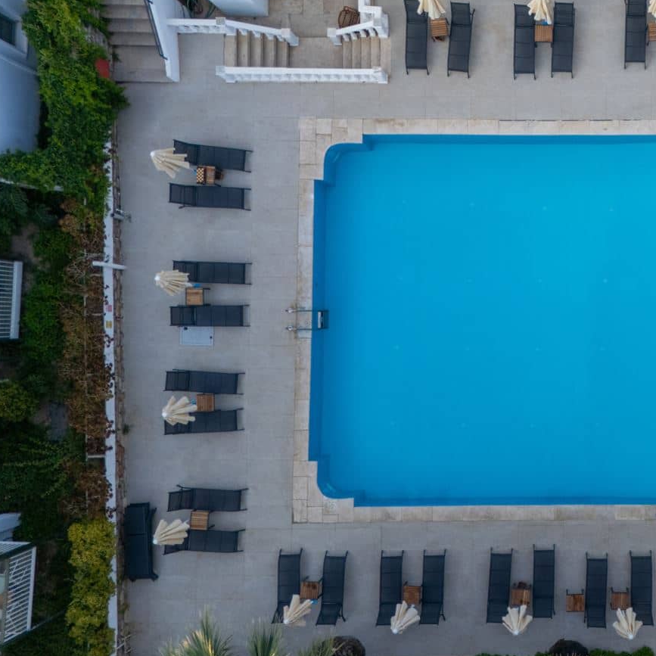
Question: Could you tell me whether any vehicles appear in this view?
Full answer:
No, no vehicle is visible in the view.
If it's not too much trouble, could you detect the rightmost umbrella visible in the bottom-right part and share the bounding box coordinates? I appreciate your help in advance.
[616,606,641,638]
